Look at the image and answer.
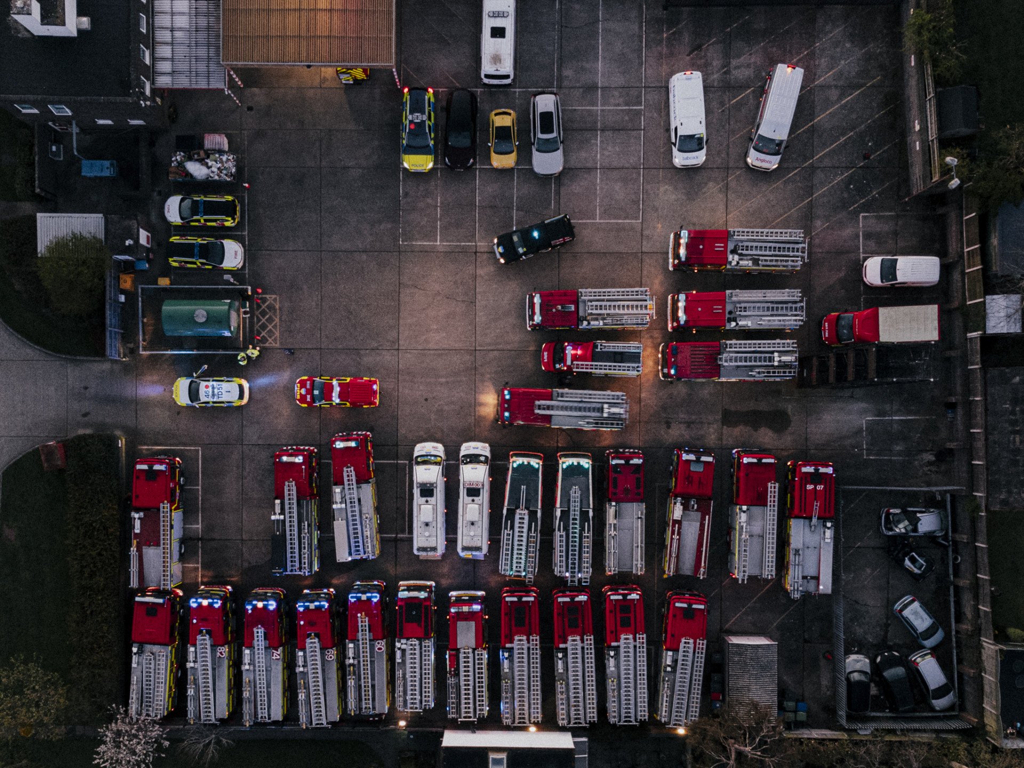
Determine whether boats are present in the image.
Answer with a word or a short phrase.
No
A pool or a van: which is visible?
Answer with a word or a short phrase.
van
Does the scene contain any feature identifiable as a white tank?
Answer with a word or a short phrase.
No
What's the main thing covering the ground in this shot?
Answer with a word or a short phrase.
paved ground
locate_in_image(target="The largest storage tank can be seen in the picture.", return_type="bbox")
[155,301,240,336]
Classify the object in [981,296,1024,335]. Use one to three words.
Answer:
shed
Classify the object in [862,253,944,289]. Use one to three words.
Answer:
van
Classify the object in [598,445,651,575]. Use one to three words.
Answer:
truck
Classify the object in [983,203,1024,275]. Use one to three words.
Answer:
shed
